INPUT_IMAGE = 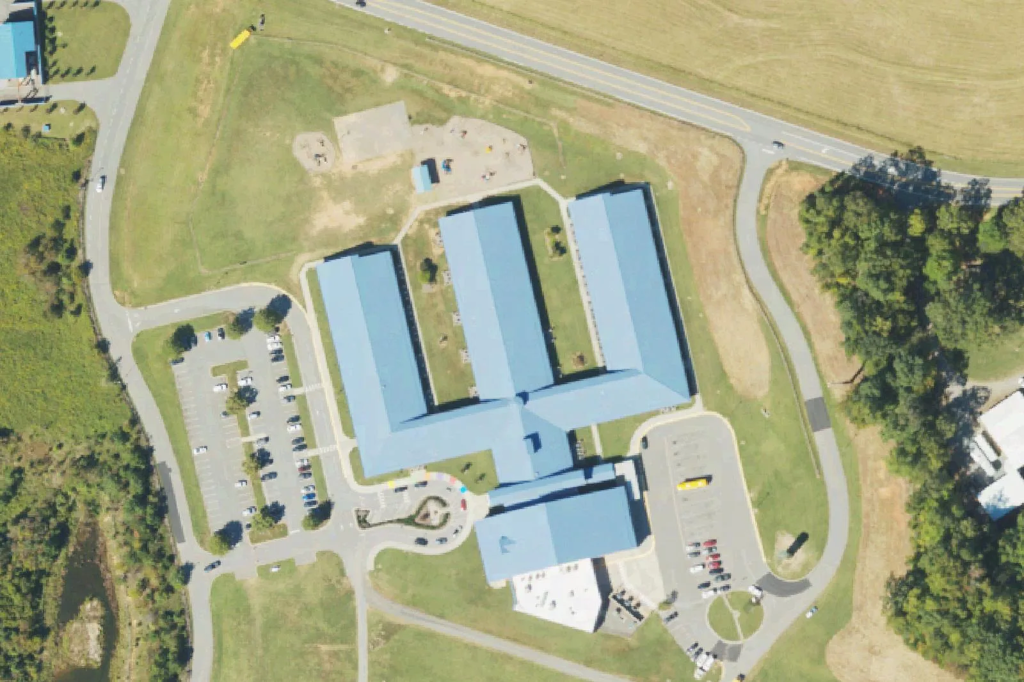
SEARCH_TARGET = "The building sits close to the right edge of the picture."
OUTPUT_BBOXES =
[969,391,1024,519]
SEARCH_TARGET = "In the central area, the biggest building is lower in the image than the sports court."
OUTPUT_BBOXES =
[316,189,692,484]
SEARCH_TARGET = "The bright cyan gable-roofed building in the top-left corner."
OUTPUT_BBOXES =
[0,21,35,78]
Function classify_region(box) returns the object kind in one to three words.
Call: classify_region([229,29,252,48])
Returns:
vehicle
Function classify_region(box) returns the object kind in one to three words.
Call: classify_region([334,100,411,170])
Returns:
sports court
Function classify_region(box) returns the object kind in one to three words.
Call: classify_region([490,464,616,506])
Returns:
building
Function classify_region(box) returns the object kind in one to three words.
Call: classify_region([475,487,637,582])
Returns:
building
